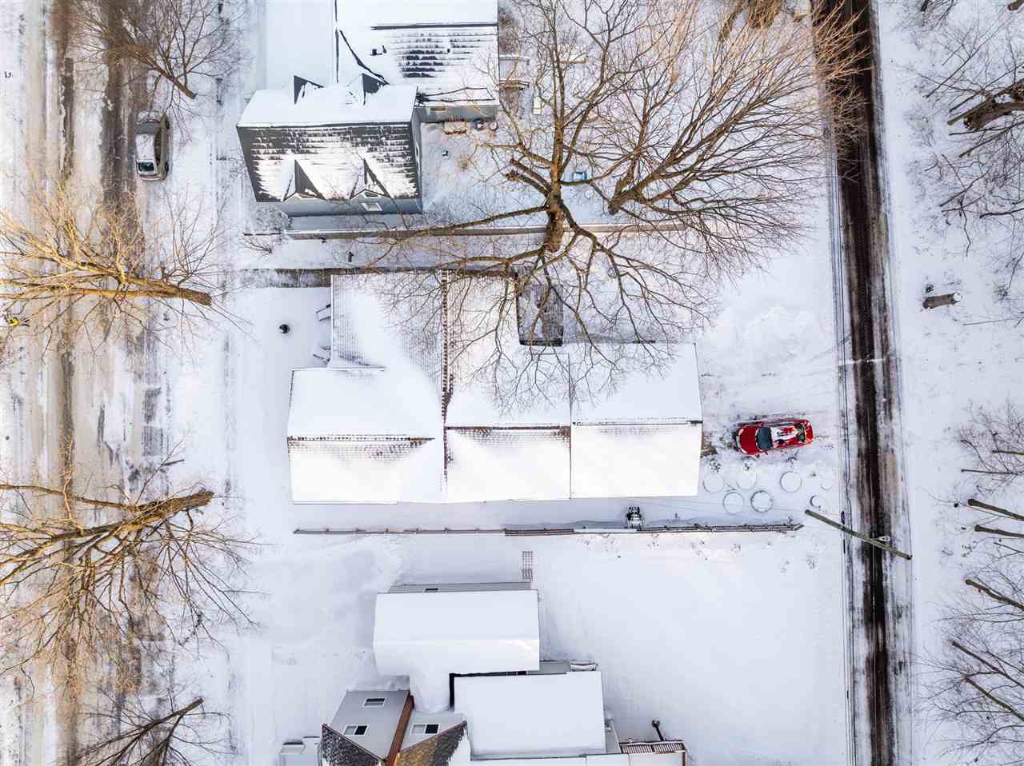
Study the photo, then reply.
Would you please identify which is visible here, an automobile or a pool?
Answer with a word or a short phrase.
automobile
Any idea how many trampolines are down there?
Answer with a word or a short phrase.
0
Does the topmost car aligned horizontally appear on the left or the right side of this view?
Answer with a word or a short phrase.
right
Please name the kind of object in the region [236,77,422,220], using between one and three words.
house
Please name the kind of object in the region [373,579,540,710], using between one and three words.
house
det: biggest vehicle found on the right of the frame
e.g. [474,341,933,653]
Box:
[732,418,812,458]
